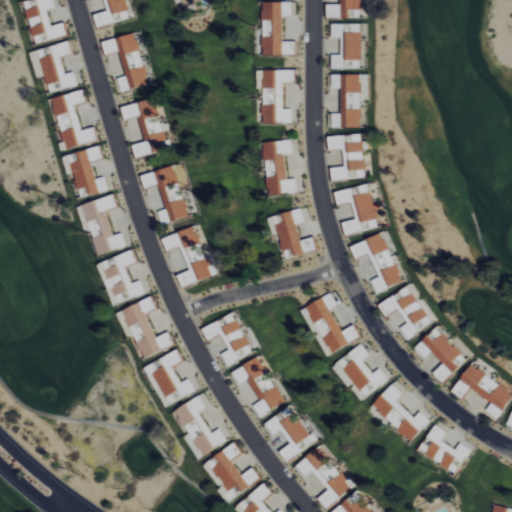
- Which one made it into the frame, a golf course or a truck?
golf course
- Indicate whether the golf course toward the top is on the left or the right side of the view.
right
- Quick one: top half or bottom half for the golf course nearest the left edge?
bottom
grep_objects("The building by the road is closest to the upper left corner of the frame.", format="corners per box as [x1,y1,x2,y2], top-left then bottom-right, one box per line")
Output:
[21,0,72,44]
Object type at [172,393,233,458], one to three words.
house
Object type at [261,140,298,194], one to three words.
house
